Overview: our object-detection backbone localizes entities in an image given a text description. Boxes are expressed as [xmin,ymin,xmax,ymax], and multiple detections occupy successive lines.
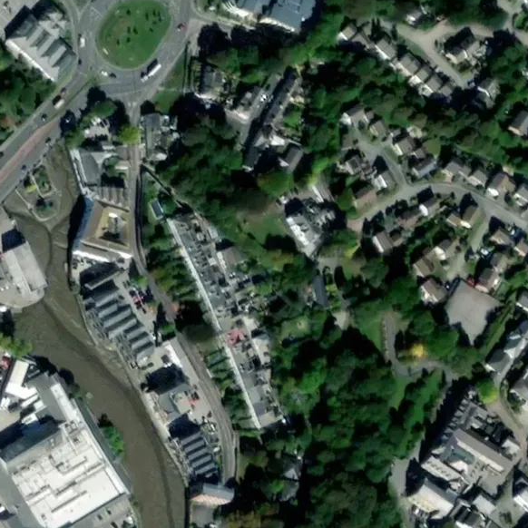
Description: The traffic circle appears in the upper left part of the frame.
[76,0,189,86]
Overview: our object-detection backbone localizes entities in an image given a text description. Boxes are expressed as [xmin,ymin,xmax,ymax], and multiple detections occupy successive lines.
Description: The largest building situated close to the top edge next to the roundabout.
[5,12,75,85]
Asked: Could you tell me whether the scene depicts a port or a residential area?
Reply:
residential area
